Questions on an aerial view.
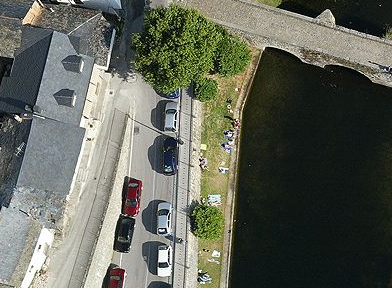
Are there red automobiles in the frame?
Yes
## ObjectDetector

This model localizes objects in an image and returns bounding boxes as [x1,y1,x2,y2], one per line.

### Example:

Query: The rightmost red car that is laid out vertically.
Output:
[122,177,142,215]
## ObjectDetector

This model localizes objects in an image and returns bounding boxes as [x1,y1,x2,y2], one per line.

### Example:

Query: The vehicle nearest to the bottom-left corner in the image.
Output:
[105,265,126,288]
